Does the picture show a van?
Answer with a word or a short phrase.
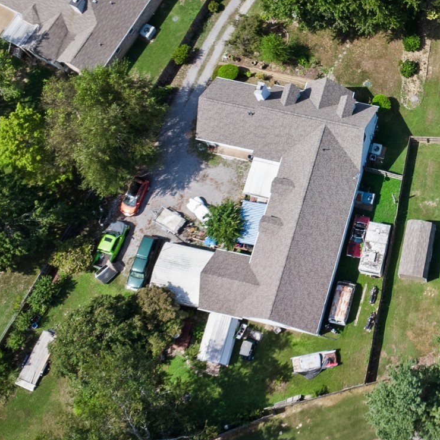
Yes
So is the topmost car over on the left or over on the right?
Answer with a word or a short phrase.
left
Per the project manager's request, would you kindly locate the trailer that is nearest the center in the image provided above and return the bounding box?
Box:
[155,202,190,237]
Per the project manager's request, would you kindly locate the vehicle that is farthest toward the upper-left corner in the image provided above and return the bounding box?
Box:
[122,180,152,215]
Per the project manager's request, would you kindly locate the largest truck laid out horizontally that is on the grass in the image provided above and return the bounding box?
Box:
[289,347,344,376]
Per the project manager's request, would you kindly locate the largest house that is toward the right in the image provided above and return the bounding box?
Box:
[195,77,379,338]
